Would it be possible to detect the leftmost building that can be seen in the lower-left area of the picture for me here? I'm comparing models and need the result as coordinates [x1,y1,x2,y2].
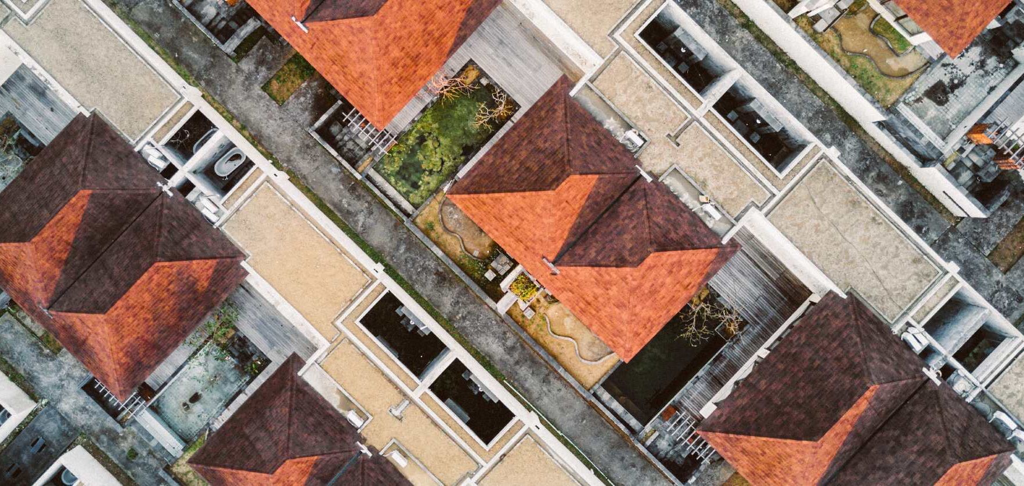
[0,374,35,442]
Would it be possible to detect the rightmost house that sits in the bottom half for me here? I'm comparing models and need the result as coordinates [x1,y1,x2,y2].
[696,150,1024,486]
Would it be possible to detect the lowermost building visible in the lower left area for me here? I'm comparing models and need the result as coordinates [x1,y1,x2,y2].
[33,446,125,486]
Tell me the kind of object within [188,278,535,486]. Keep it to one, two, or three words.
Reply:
house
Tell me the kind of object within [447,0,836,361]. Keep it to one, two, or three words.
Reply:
house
